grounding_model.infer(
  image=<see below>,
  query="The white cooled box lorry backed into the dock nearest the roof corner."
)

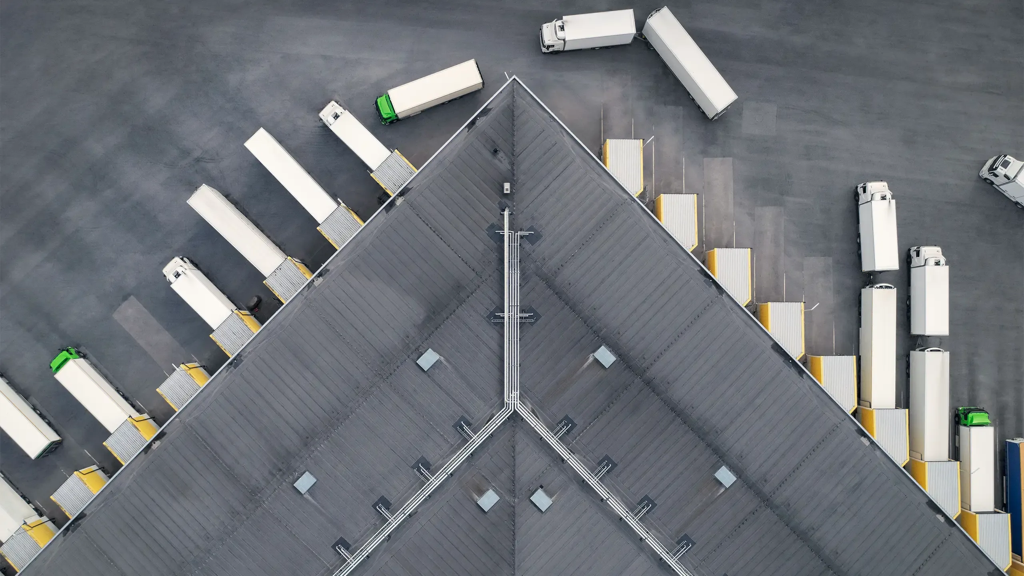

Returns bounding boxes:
[319,100,392,169]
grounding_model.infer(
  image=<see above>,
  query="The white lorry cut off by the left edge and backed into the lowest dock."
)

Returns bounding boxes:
[0,475,39,541]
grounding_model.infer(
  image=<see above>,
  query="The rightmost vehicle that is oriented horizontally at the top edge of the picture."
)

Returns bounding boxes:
[540,9,636,55]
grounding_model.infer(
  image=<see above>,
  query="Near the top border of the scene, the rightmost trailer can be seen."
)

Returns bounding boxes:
[636,7,737,120]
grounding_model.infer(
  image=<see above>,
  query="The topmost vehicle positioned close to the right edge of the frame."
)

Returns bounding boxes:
[976,151,1024,201]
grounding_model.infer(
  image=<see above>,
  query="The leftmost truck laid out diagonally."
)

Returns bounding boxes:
[0,362,70,460]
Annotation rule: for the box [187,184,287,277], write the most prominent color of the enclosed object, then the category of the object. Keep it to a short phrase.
white trailer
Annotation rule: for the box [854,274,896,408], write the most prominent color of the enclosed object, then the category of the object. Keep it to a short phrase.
white trailer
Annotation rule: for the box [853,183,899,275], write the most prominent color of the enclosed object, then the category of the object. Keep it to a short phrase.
white truck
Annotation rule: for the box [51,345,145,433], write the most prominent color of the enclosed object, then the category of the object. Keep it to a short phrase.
white truck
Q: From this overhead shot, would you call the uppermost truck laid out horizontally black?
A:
No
